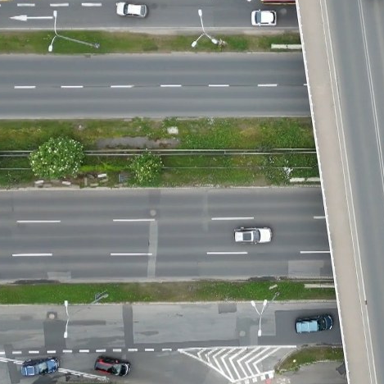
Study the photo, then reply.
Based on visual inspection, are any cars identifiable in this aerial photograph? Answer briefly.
Yes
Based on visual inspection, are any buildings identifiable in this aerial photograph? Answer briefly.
No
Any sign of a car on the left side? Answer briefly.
Yes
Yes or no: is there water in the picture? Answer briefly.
No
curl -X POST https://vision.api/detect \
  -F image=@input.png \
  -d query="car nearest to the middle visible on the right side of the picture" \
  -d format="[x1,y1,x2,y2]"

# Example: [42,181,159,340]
[233,225,272,245]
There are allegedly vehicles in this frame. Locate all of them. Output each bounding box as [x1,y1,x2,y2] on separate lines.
[93,354,131,377]
[294,313,334,333]
[116,2,148,18]
[251,9,276,27]
[233,225,272,245]
[19,355,60,377]
[260,0,296,5]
